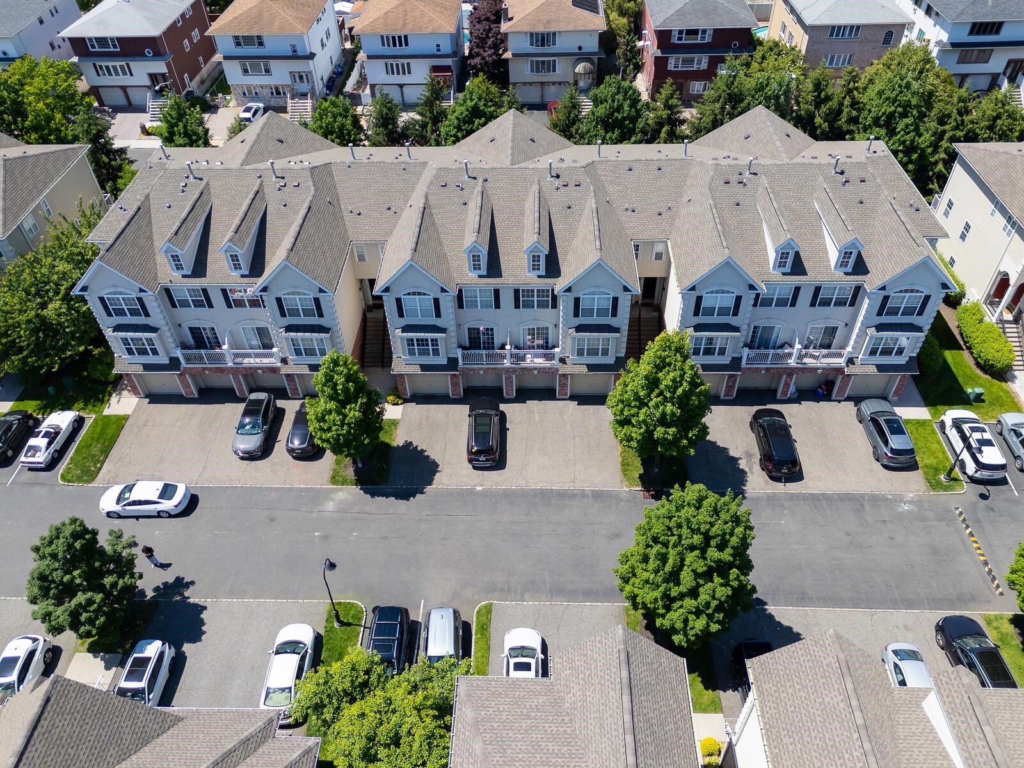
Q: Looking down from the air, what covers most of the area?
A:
buildings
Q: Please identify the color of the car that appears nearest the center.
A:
black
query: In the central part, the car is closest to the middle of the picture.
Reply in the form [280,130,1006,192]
[464,399,504,466]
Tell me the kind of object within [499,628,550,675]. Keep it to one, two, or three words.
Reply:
car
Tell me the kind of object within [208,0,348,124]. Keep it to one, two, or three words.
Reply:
house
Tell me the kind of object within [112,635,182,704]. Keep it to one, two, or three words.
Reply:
car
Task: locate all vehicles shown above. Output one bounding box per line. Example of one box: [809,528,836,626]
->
[353,608,414,689]
[237,101,271,127]
[940,410,1009,480]
[749,408,801,479]
[874,640,929,684]
[932,617,1012,689]
[285,401,325,464]
[230,389,286,459]
[256,623,317,731]
[499,628,550,675]
[423,606,467,671]
[856,400,917,467]
[0,636,52,704]
[0,407,41,470]
[97,483,193,525]
[464,399,504,466]
[112,635,182,704]
[18,413,80,472]
[731,649,769,710]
